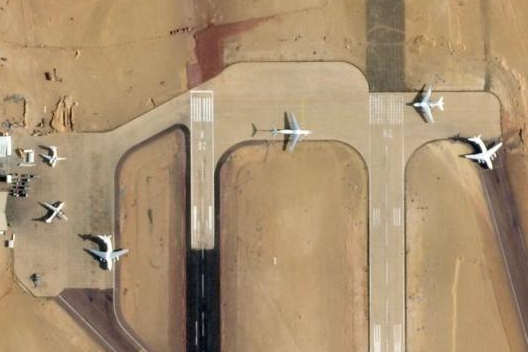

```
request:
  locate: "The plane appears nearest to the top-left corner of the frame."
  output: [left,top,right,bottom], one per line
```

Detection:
[41,147,66,167]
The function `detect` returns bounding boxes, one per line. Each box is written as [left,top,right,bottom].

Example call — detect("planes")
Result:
[274,112,311,152]
[45,200,67,225]
[413,85,444,124]
[89,236,129,271]
[464,134,501,170]
[41,147,66,167]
